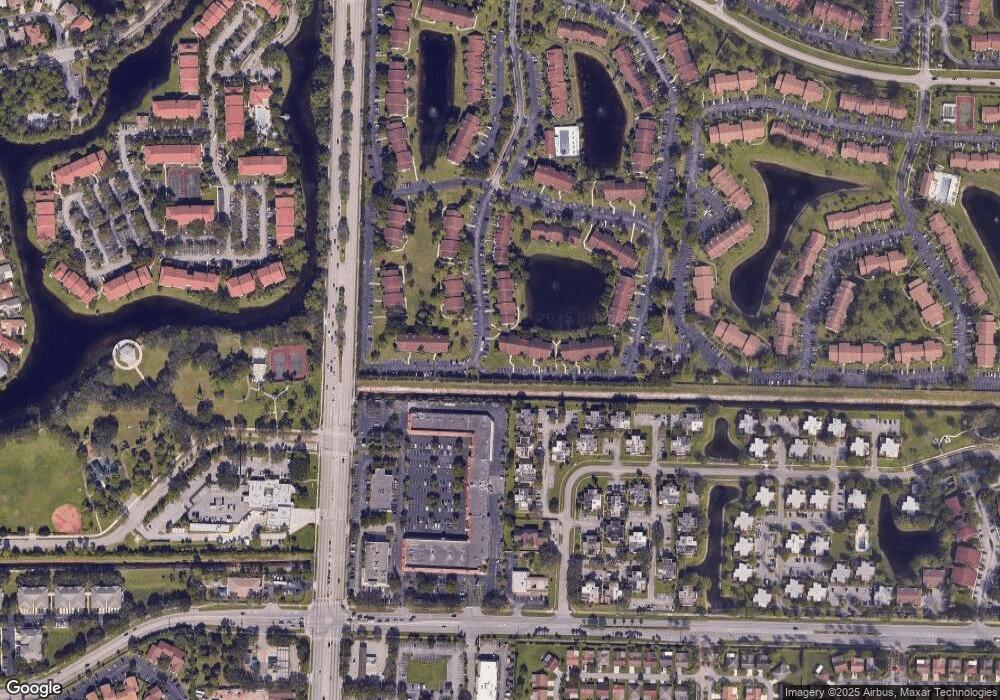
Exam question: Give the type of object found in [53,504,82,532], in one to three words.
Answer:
baseball field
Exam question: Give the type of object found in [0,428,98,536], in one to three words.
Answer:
sports field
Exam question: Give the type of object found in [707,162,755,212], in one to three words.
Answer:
building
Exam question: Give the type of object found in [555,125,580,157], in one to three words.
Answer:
swimming pool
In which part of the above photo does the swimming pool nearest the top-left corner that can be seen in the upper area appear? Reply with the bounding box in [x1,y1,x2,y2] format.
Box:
[251,104,270,136]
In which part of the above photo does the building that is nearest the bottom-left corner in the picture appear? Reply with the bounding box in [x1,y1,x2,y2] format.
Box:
[17,629,43,661]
